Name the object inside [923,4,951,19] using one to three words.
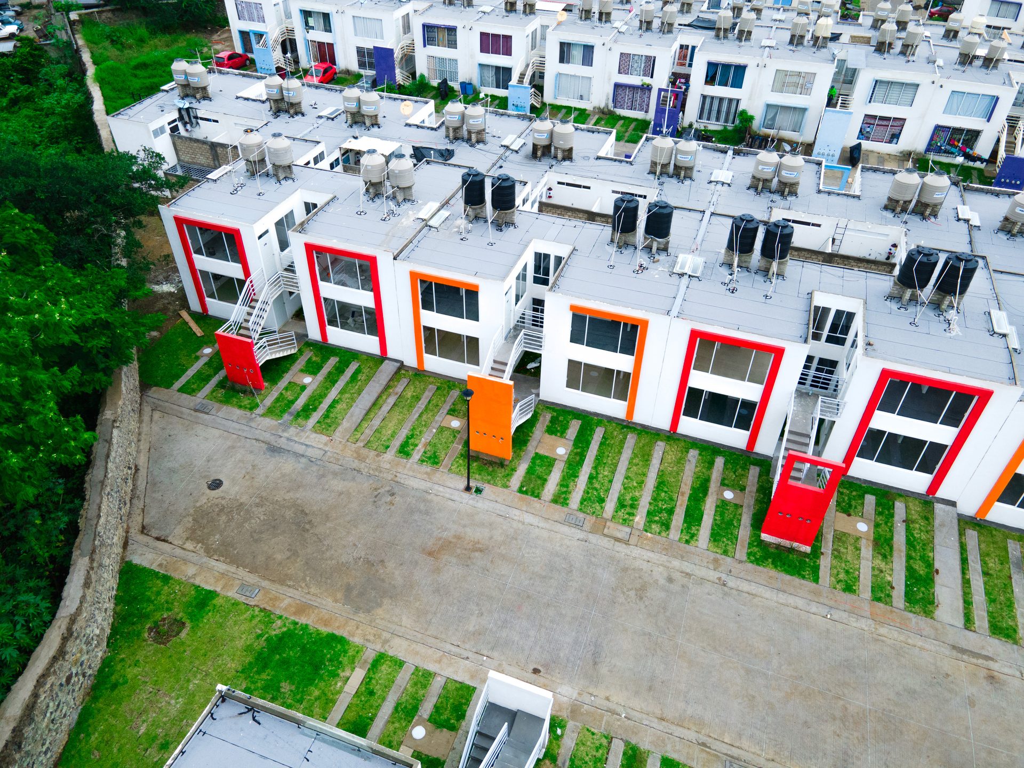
car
